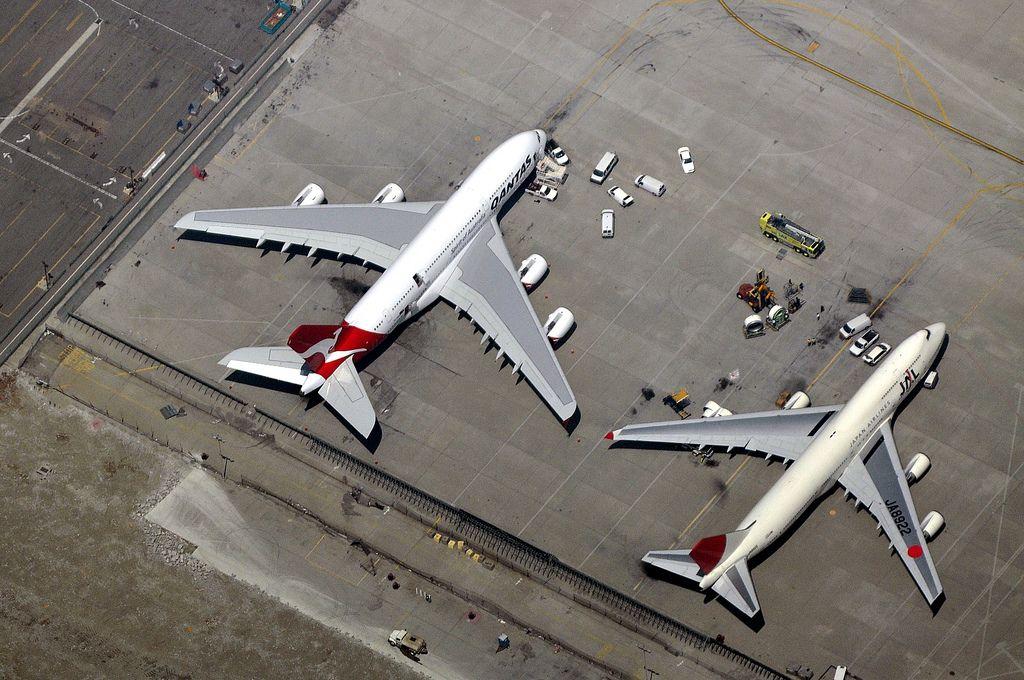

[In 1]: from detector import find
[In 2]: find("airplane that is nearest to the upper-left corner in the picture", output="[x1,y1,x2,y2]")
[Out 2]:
[170,131,578,440]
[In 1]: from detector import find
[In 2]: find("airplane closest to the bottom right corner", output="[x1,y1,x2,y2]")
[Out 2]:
[606,323,947,620]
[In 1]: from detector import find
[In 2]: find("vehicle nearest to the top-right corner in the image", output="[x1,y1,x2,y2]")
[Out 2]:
[758,213,826,260]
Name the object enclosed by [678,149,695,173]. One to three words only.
car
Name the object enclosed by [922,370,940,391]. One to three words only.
vehicle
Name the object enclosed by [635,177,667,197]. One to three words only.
vehicle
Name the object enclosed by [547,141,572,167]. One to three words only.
truck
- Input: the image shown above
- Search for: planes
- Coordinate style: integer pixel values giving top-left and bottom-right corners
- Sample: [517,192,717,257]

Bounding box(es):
[606,323,947,620]
[170,131,578,440]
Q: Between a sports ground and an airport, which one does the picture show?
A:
airport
